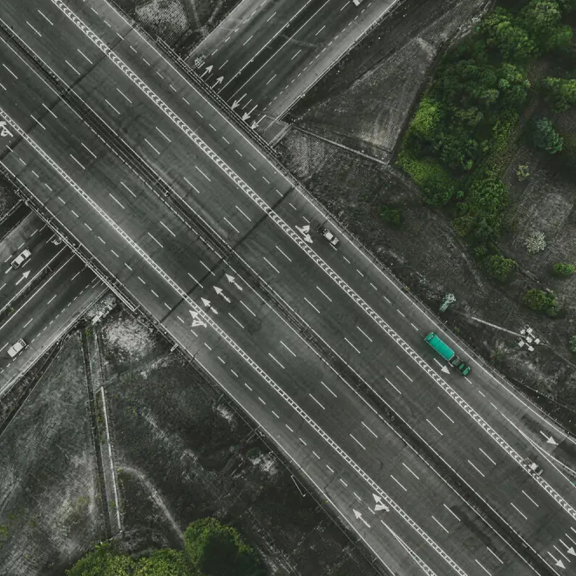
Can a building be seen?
No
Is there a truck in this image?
Yes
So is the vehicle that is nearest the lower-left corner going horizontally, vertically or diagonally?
diagonally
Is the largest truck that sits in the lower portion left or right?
right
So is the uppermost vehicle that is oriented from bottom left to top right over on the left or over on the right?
left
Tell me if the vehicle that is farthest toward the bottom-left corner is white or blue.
white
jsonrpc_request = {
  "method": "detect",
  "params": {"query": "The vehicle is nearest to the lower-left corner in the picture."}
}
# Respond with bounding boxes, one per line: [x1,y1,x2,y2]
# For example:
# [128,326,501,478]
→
[6,338,27,358]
